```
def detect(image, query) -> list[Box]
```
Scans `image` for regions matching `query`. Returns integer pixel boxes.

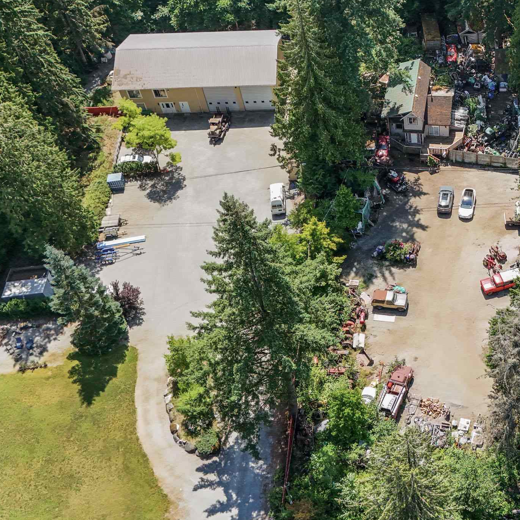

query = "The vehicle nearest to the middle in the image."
[267,181,287,216]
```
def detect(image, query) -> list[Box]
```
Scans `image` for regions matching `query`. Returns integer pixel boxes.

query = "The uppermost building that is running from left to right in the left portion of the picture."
[114,29,292,118]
